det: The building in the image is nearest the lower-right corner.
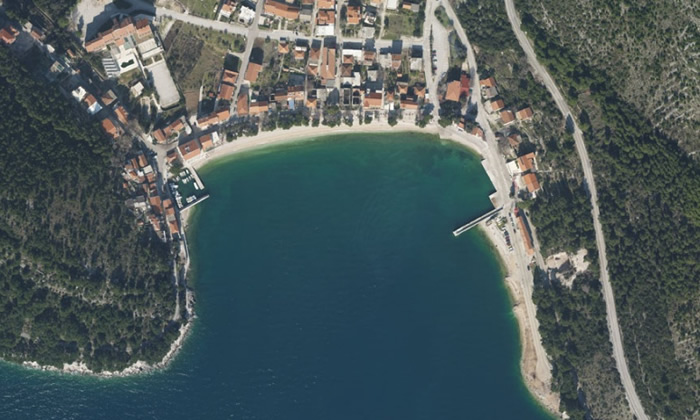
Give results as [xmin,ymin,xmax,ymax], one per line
[515,213,537,257]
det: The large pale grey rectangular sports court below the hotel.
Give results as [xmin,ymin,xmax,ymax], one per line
[147,60,181,107]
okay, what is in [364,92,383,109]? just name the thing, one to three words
house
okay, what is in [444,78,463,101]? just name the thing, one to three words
building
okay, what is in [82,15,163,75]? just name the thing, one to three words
building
